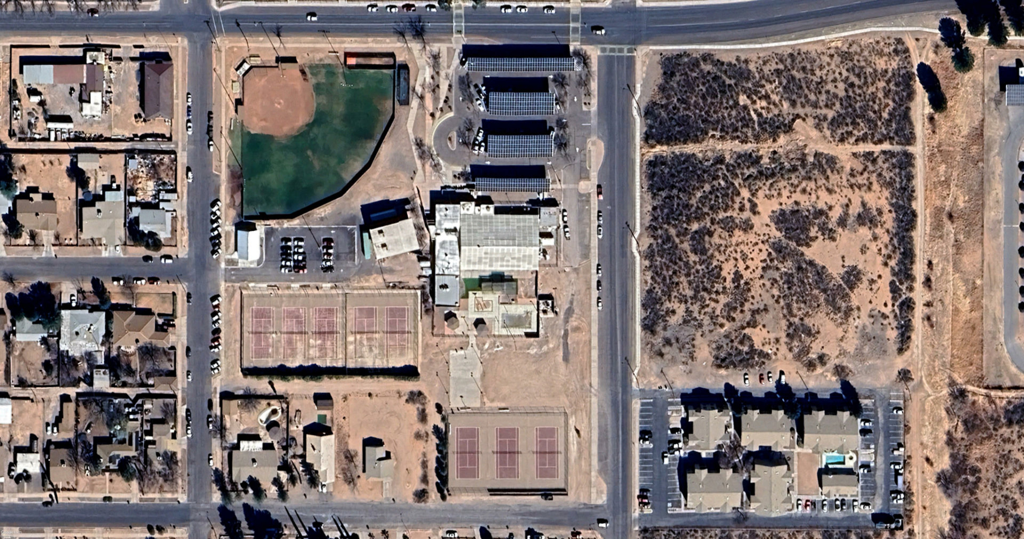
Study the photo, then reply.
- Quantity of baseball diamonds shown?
one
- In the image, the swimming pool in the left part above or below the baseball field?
below it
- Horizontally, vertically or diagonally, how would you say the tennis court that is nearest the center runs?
vertically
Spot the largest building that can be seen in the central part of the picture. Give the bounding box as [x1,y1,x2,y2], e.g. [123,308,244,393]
[429,196,560,306]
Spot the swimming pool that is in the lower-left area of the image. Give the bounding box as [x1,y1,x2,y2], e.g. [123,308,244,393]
[258,407,280,427]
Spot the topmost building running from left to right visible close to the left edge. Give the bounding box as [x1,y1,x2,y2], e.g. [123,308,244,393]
[23,61,86,83]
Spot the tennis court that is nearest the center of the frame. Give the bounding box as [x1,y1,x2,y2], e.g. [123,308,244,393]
[385,307,410,359]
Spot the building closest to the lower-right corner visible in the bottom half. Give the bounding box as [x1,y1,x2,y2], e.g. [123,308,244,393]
[822,471,859,500]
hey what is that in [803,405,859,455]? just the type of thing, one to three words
building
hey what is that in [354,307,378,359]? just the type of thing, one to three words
tennis court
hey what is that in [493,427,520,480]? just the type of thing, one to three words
tennis court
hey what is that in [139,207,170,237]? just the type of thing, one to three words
house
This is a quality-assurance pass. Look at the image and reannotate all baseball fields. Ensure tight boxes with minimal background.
[243,63,395,218]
